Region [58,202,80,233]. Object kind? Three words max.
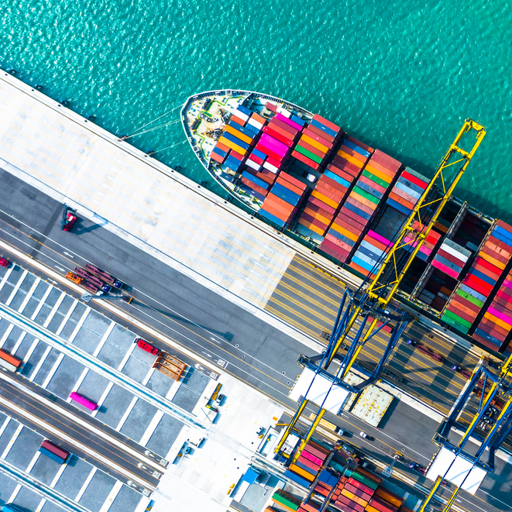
work vehicle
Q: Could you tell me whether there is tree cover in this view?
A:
No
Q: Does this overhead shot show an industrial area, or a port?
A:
port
